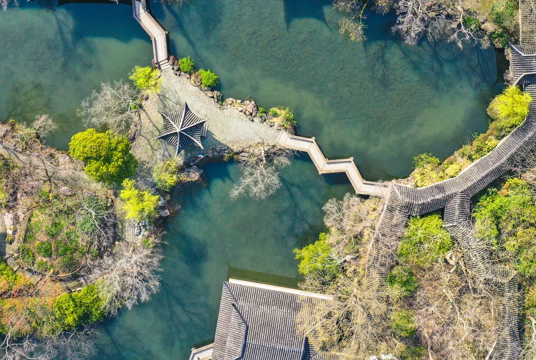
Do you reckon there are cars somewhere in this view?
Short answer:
No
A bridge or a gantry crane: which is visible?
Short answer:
bridge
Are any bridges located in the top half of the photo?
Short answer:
Yes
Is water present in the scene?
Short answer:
Yes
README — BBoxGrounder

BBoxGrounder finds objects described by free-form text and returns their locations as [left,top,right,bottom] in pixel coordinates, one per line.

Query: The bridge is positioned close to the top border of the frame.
[129,0,172,68]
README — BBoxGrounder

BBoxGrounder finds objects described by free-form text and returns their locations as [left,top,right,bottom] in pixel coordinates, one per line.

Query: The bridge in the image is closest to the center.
[280,129,393,199]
